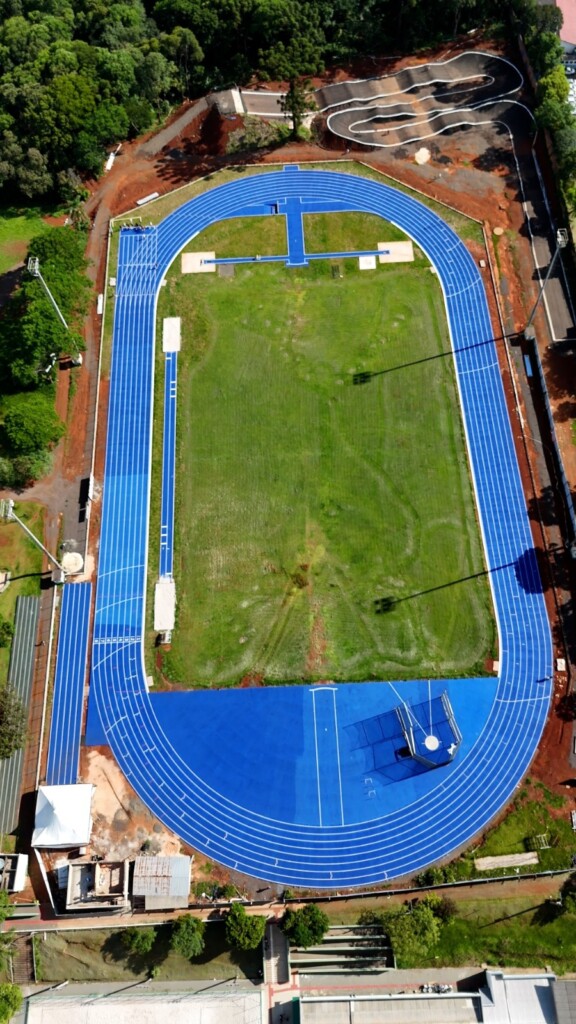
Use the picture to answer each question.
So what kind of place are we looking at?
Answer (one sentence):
The area seen from above is a sports ground.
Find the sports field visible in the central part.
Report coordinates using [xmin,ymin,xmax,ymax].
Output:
[146,209,499,693]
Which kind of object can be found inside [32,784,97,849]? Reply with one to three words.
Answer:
tent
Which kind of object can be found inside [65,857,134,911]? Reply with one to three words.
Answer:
building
